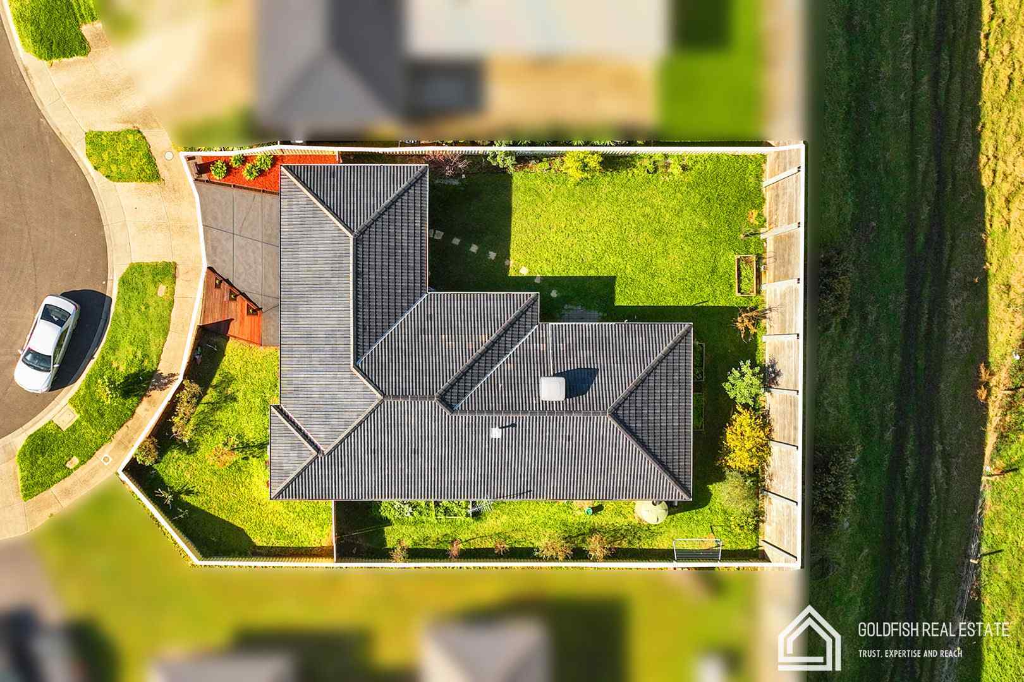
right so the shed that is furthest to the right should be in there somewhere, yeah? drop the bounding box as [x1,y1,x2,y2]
[694,654,734,682]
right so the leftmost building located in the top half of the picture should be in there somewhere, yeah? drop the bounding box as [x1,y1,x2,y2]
[254,0,406,125]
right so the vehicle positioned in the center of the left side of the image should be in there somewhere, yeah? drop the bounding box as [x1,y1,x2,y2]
[19,295,80,395]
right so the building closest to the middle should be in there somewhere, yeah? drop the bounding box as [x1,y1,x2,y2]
[267,161,695,503]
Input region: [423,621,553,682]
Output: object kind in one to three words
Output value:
house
